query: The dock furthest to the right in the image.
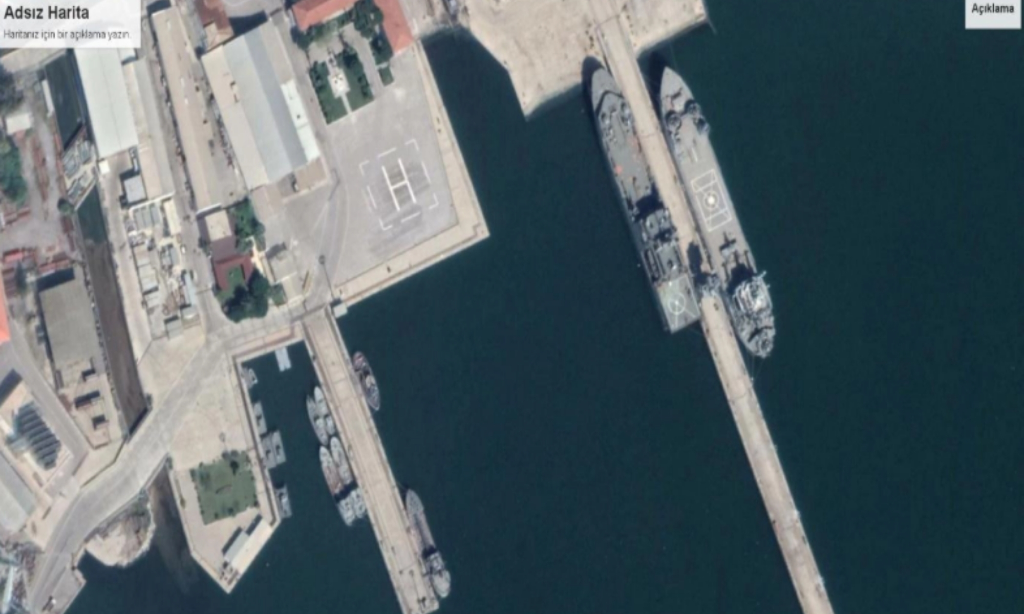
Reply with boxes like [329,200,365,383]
[595,18,834,614]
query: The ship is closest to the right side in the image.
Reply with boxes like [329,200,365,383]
[659,66,774,359]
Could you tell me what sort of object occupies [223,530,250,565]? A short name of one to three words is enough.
building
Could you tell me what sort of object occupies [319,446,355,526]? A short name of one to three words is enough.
vessel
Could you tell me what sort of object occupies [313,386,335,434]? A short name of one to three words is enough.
boat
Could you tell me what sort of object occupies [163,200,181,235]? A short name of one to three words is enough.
shed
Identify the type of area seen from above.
port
